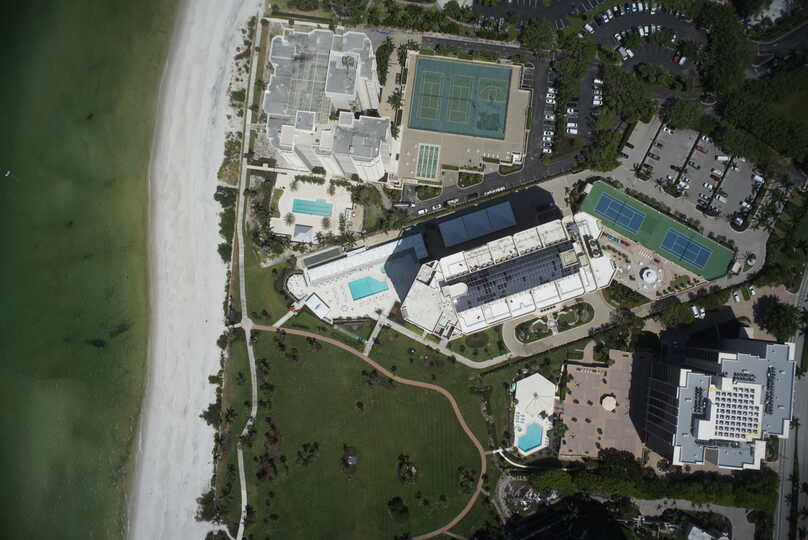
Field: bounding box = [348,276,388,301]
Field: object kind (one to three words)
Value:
swimming pool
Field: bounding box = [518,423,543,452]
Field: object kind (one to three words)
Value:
swimming pool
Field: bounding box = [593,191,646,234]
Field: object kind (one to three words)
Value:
tennis court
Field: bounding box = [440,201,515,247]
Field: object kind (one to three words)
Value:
building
